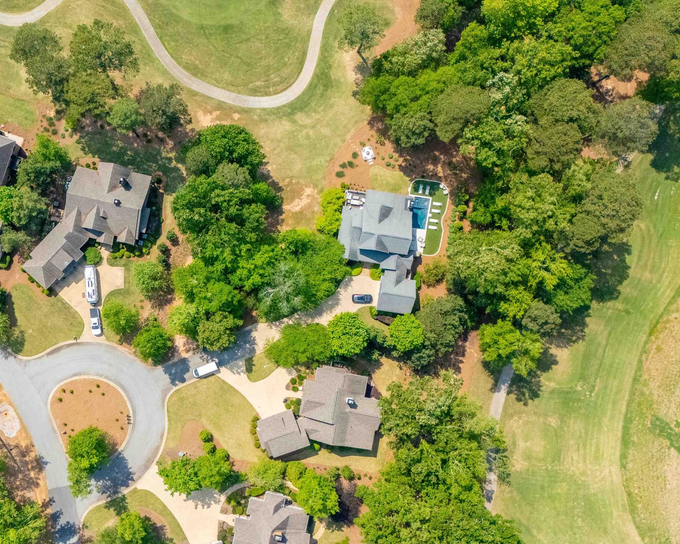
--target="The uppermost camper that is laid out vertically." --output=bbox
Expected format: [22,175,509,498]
[83,265,99,307]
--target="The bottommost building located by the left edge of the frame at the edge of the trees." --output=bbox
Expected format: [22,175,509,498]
[19,163,152,294]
